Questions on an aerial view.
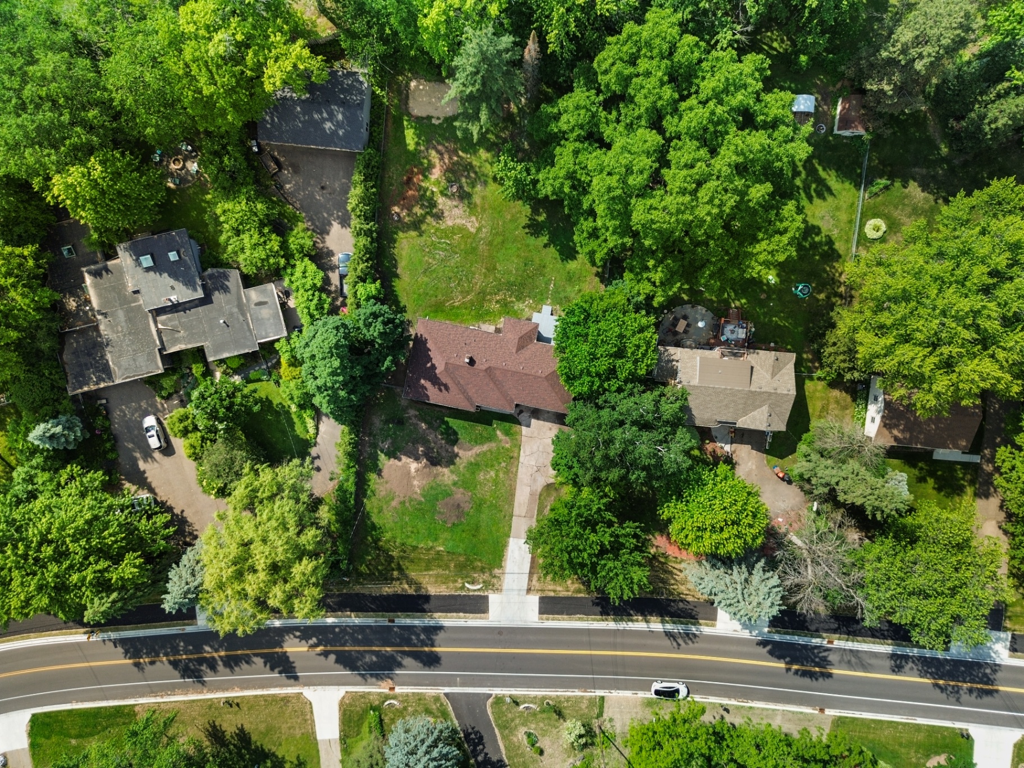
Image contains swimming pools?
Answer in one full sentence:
No, the frame has no swimming pool in it.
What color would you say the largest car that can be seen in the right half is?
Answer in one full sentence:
The largest car that can be seen in the right half looks white in the image.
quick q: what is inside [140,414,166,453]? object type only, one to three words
car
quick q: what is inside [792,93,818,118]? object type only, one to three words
shed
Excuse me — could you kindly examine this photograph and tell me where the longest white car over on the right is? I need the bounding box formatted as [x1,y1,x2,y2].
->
[651,680,687,700]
